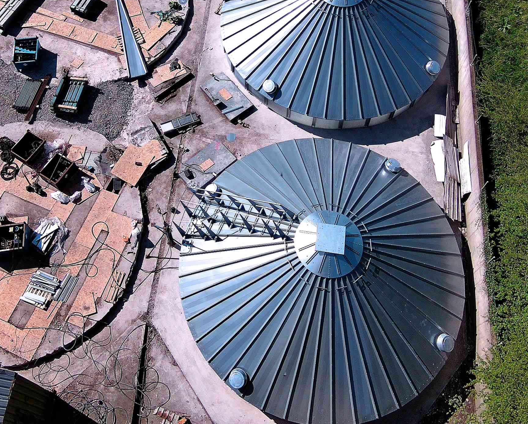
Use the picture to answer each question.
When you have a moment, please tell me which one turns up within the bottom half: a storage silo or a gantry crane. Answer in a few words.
storage silo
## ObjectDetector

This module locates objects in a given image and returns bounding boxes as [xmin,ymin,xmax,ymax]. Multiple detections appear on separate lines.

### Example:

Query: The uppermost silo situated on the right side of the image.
[220,0,450,128]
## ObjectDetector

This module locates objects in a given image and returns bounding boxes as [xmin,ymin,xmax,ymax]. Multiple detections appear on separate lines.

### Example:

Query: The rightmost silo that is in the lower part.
[171,135,470,424]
